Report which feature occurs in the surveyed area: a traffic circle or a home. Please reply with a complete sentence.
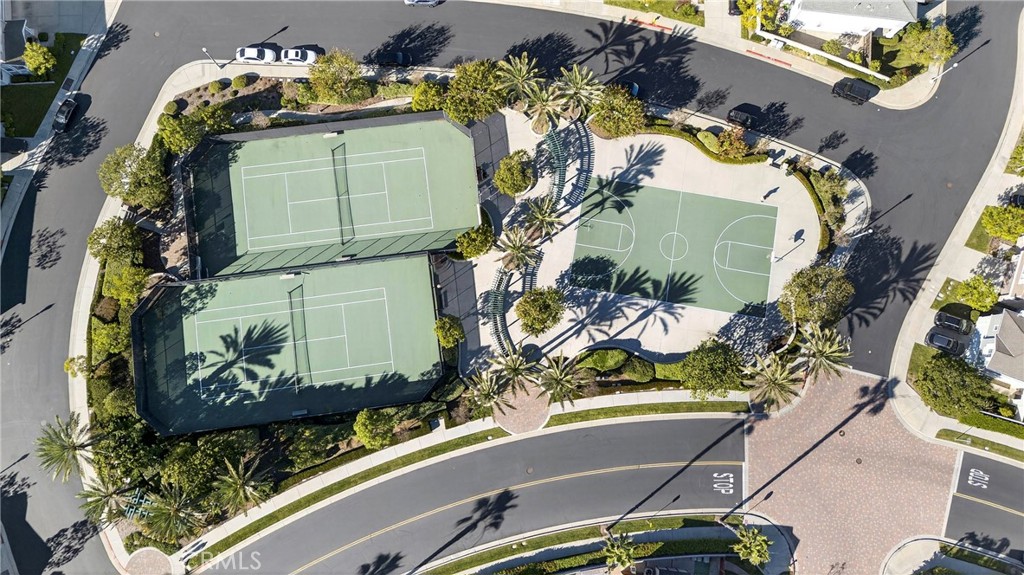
Looking from above, you can make out a home.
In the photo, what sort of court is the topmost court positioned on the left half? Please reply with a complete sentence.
Looking closely, the topmost court positioned on the left half is a tennis court.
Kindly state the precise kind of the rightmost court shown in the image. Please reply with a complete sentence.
I'd identify the rightmost court as a basketball court.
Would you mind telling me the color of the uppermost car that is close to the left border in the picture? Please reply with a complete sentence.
The uppermost car that is close to the left border looks black in the image.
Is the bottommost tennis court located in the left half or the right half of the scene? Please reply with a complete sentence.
You can find the bottommost tennis court on the left side of the picture.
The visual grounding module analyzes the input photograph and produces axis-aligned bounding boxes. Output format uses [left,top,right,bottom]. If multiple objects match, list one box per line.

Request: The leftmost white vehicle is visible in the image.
[237,45,274,63]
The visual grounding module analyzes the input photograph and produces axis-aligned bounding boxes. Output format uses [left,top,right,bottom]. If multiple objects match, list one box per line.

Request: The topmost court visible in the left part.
[193,119,480,281]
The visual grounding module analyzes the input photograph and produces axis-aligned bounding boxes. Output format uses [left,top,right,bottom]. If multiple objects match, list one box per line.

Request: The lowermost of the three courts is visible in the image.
[142,251,440,433]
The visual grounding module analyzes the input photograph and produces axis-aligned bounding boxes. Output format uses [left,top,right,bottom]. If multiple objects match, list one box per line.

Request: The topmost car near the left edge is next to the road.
[49,94,76,131]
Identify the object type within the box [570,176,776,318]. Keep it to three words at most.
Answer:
basketball court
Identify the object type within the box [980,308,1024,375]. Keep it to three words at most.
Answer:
house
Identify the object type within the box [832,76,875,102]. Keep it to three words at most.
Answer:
truck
